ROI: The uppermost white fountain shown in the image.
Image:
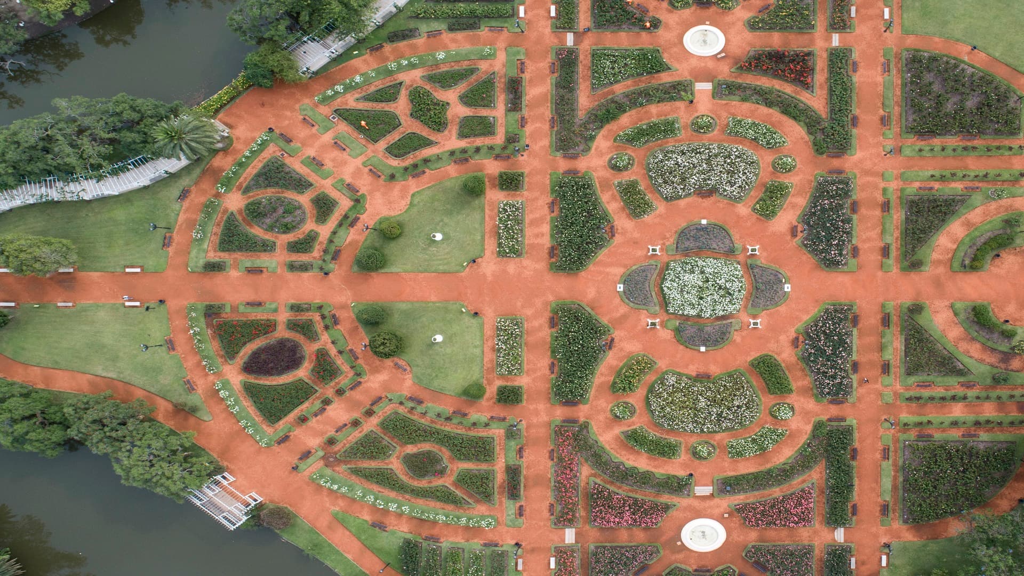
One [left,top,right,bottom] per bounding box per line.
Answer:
[683,24,725,56]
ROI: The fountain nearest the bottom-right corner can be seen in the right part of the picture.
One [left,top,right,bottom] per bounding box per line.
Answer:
[681,518,727,552]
